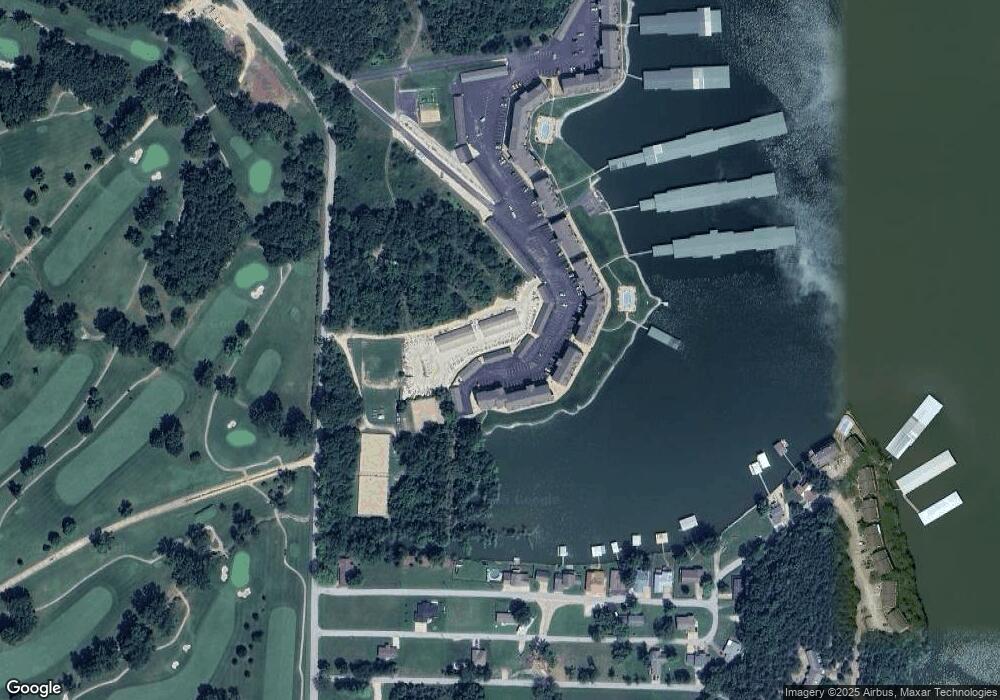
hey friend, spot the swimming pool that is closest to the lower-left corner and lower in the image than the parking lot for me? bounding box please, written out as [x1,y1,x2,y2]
[487,567,502,581]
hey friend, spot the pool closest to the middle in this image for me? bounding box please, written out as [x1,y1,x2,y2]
[617,285,637,312]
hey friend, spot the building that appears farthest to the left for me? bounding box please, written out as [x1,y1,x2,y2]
[338,560,353,590]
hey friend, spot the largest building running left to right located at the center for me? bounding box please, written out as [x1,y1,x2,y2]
[477,383,552,409]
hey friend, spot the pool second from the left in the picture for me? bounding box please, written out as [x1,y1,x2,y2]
[535,116,556,144]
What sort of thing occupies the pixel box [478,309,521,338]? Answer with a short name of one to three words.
shed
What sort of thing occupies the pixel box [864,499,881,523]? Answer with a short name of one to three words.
building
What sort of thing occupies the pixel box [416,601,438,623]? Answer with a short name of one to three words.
house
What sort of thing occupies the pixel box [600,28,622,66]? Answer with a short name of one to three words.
building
